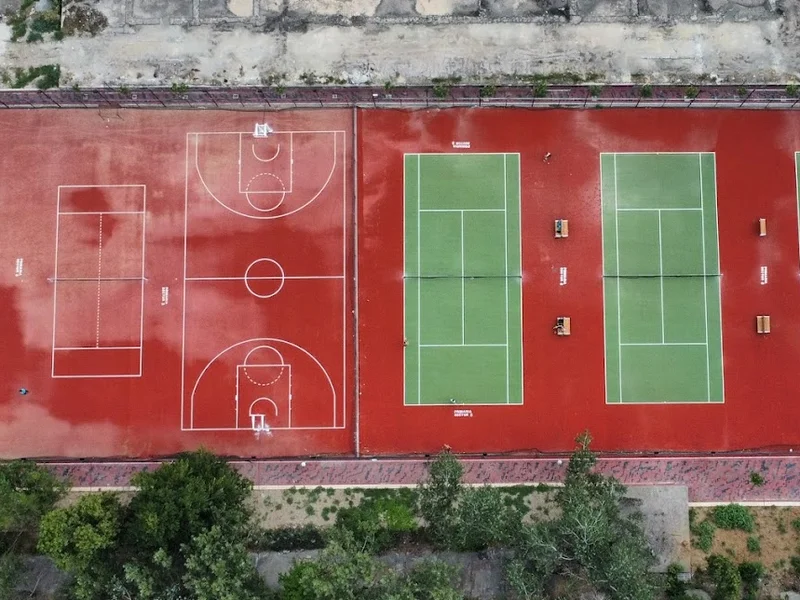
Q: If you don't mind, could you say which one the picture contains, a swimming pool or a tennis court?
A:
tennis court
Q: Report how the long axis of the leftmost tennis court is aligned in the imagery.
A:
from top to bottom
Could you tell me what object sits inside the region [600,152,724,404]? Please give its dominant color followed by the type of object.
green tennis court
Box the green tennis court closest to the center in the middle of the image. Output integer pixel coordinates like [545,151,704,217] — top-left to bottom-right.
[404,153,523,405]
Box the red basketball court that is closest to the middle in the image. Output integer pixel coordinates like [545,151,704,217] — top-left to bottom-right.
[181,131,345,429]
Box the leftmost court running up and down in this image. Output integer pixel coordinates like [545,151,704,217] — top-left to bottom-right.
[52,185,146,377]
